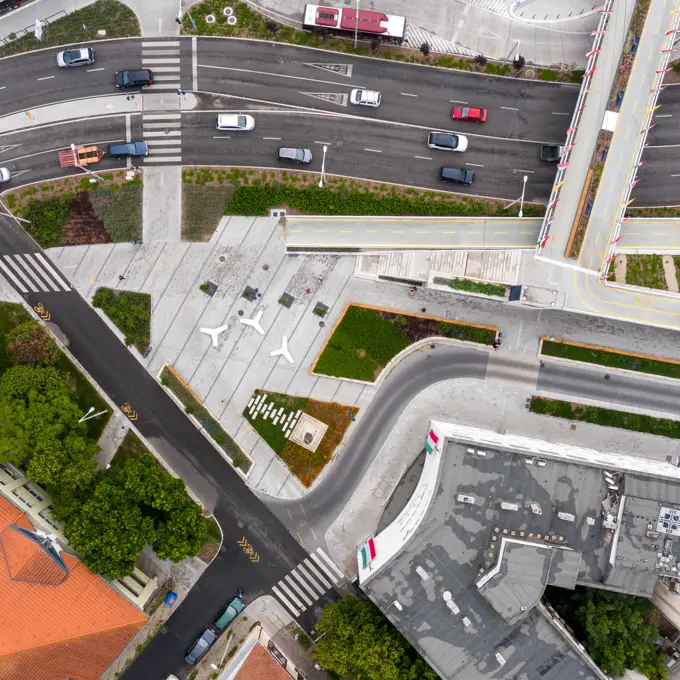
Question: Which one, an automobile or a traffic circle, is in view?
automobile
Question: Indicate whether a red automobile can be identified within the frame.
Yes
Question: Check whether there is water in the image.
No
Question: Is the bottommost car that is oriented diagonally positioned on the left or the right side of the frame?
left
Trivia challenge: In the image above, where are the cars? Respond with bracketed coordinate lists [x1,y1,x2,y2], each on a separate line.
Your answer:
[108,139,150,160]
[116,68,155,90]
[183,627,219,666]
[537,143,562,162]
[278,146,313,165]
[0,166,13,183]
[428,131,468,153]
[216,112,256,133]
[452,104,488,124]
[439,166,474,186]
[350,88,382,108]
[210,594,247,631]
[58,48,97,70]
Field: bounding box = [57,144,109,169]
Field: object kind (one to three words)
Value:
trailer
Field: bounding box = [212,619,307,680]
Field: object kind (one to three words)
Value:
house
